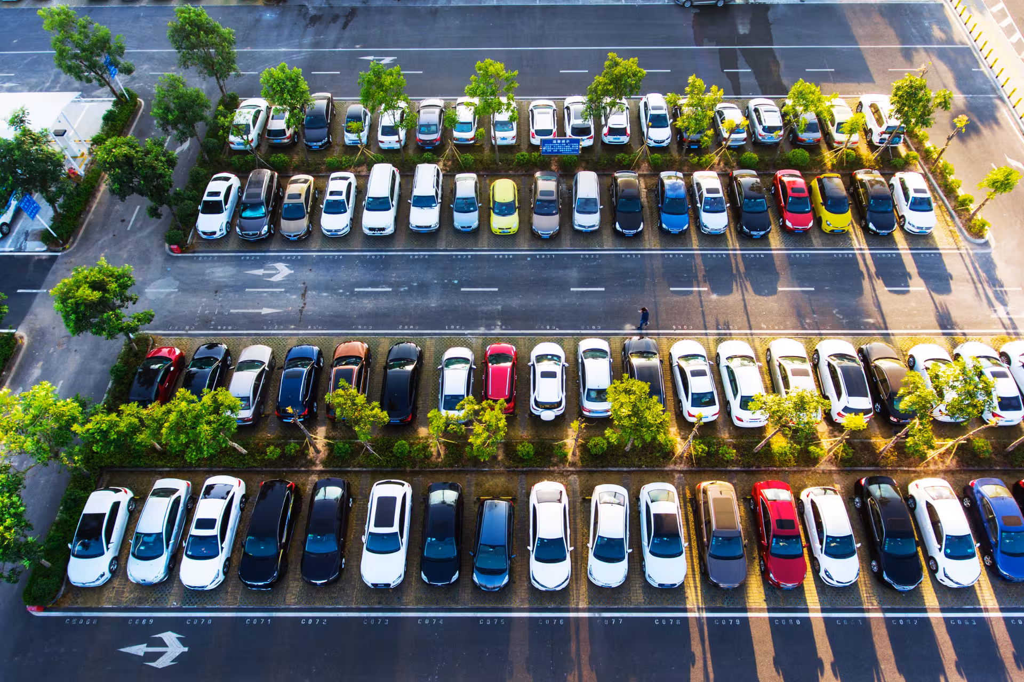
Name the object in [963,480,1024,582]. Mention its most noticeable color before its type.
blue car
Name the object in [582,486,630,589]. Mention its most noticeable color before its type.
white car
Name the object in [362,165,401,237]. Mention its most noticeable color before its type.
white car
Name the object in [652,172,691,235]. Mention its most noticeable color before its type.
blue car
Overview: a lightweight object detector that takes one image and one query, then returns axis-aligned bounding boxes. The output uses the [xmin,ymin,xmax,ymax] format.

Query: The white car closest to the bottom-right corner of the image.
[907,480,980,588]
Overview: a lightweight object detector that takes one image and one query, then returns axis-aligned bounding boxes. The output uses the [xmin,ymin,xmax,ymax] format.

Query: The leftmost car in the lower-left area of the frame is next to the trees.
[63,491,133,588]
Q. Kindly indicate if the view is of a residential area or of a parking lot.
parking lot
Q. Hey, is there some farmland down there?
No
